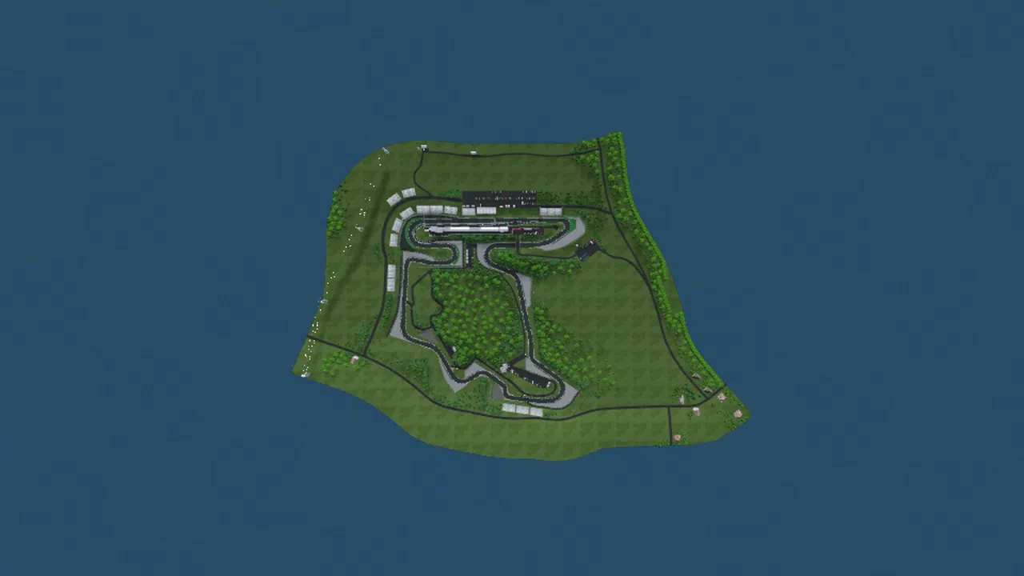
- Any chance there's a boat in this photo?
No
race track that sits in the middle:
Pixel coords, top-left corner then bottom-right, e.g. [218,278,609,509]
[401,218,570,403]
